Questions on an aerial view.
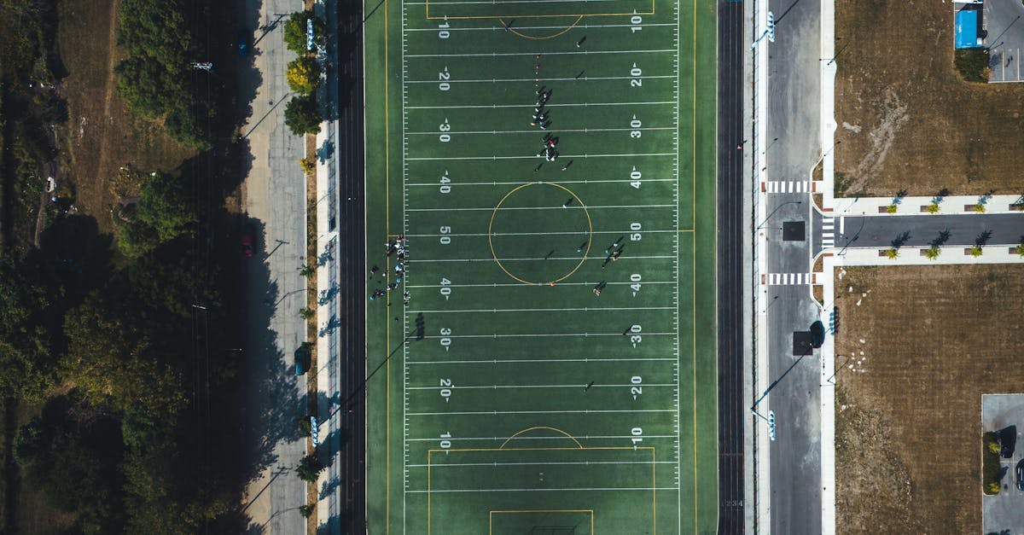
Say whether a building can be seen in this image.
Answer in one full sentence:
No, no building is visible in the scene.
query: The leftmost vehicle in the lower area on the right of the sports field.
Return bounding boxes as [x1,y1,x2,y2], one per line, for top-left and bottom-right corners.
[810,327,823,351]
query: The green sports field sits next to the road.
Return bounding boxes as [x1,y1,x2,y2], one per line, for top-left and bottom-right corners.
[364,0,717,535]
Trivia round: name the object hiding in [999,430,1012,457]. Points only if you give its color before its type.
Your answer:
black vehicle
